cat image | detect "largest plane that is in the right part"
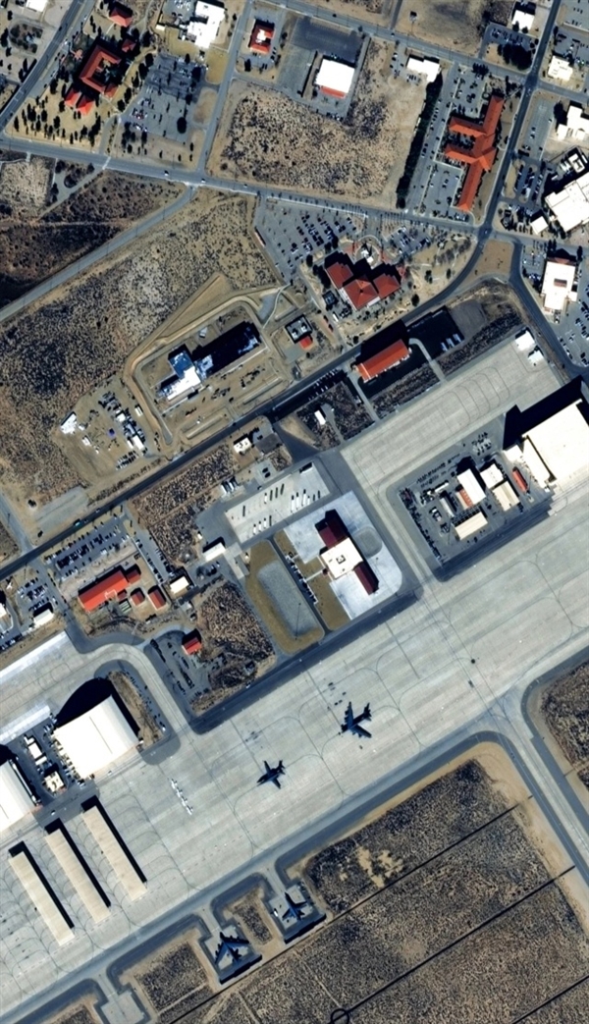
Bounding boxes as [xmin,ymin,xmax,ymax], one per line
[343,702,376,738]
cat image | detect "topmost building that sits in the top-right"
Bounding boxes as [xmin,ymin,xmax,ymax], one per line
[512,9,536,30]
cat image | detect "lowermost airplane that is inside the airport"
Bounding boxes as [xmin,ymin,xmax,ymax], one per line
[219,933,253,967]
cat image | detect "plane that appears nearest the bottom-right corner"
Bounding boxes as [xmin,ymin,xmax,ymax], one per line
[284,893,307,922]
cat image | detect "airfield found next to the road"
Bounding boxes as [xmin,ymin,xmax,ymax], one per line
[0,328,589,1024]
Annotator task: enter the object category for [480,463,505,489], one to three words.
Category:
building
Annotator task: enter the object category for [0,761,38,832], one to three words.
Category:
hangar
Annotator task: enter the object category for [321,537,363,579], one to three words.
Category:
building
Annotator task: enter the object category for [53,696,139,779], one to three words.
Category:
hangar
